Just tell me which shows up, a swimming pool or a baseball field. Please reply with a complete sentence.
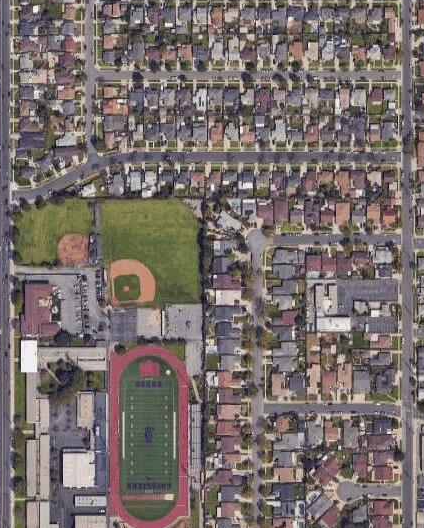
There is a baseball field in the scene.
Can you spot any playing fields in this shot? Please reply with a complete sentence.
Yes, a playing field is visible in the scene.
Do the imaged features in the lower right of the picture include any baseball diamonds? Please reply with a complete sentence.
No, the scene shows no baseball diamond in the lower right of the picture.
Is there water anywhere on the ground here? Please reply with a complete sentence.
No, the picture contains no water.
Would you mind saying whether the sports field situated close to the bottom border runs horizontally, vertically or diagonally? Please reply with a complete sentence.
In this picture, the sports field situated close to the bottom border lies vertically.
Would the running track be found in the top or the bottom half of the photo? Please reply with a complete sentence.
Seen from above, the running track lies in the bottom half of the view.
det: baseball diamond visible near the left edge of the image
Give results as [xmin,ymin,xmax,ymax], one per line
[16,199,95,265]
